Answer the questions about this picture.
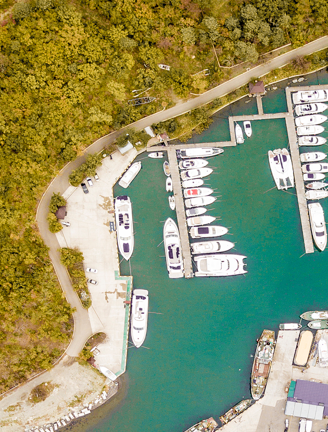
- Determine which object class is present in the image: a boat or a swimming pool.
boat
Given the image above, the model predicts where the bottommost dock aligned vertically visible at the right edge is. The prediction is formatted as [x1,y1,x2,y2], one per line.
[284,117,315,254]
